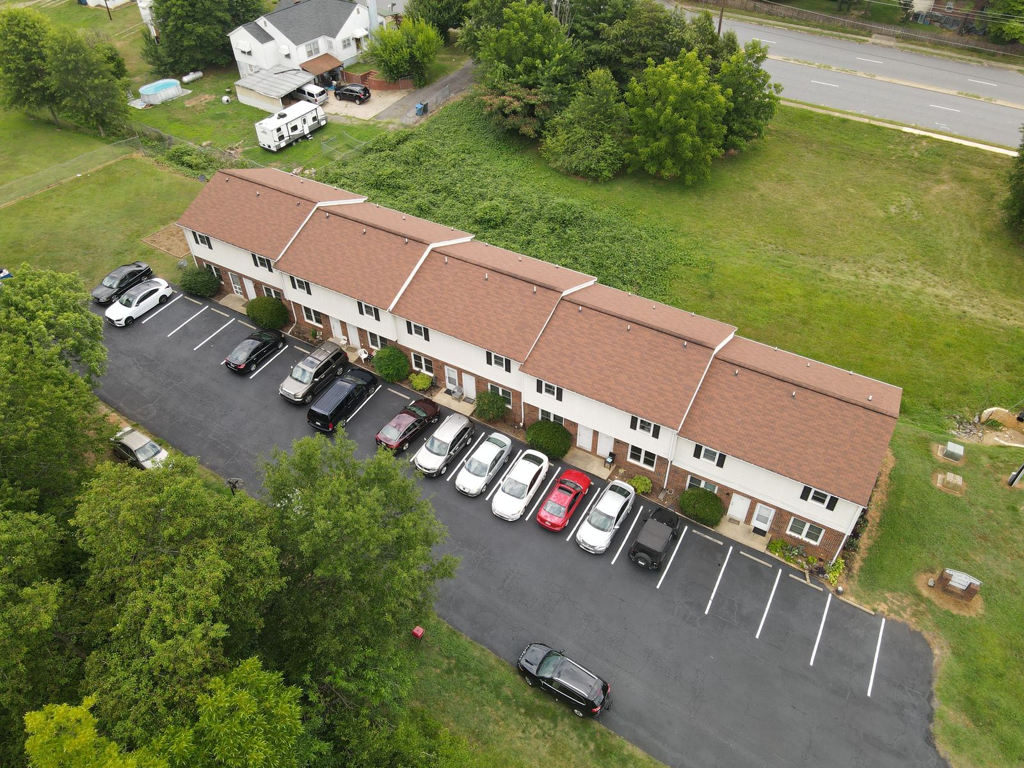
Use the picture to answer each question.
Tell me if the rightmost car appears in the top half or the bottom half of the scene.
bottom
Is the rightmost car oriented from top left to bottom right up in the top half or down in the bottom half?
bottom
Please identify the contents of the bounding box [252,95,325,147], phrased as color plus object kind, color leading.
white vehicle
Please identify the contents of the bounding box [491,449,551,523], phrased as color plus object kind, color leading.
white car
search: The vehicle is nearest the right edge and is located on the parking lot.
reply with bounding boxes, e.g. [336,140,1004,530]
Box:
[629,506,683,577]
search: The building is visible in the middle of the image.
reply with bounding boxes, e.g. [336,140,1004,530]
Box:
[175,168,903,561]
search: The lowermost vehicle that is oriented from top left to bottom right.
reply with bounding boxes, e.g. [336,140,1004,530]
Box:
[512,638,615,723]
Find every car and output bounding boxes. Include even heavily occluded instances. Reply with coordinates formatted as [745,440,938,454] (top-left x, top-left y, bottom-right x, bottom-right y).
[576,481,638,558]
[491,449,551,523]
[101,280,171,328]
[412,412,476,480]
[512,638,615,723]
[535,466,592,534]
[89,259,151,304]
[224,326,288,376]
[307,365,380,432]
[629,506,683,577]
[277,342,349,408]
[331,82,372,105]
[375,397,441,458]
[280,83,324,101]
[102,425,175,474]
[453,433,513,500]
